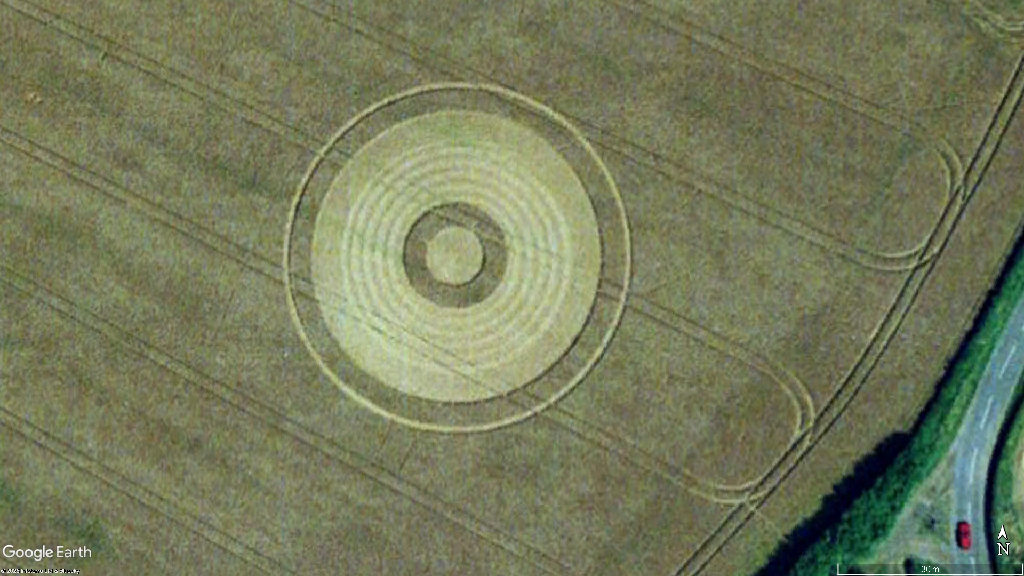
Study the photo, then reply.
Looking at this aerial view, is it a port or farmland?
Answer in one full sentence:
The area seen from above is farmland.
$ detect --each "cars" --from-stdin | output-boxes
[960,524,973,551]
